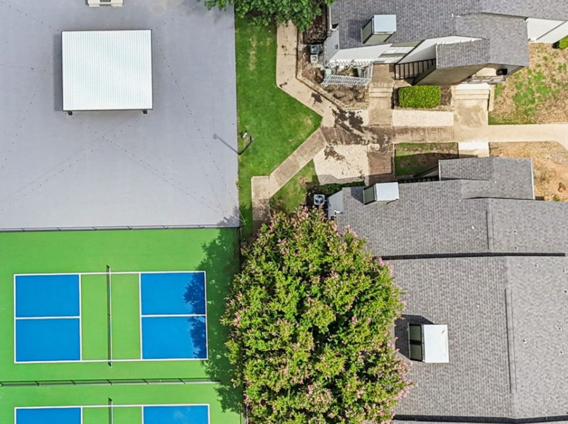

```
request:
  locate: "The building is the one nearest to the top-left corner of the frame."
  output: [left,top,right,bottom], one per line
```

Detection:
[62,28,153,117]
